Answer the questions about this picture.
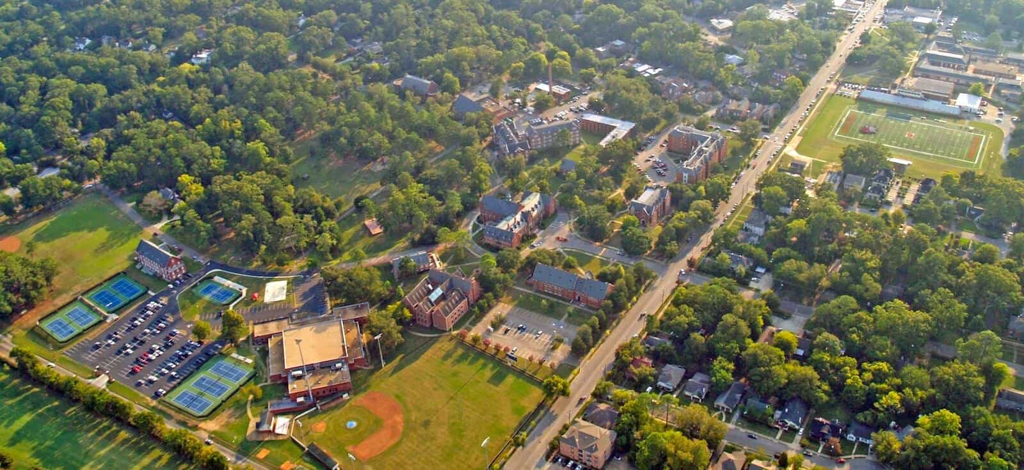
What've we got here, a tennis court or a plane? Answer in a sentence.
This aerial view contains a tennis court.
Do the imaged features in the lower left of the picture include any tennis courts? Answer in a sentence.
Yes, a tennis court appears in the lower left of the picture.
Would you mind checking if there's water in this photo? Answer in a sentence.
No, no water is visible.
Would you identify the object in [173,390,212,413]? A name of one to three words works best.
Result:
tennis court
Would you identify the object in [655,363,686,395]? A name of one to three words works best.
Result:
house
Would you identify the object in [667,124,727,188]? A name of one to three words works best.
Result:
building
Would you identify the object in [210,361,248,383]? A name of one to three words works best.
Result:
tennis court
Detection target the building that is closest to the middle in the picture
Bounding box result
[475,188,557,255]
